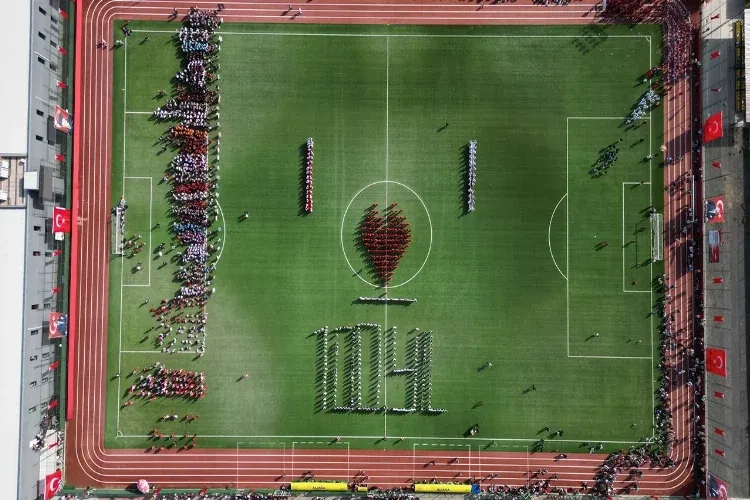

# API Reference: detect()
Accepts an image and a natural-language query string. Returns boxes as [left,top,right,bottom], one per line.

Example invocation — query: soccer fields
[105,20,666,488]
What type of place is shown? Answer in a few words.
sports ground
